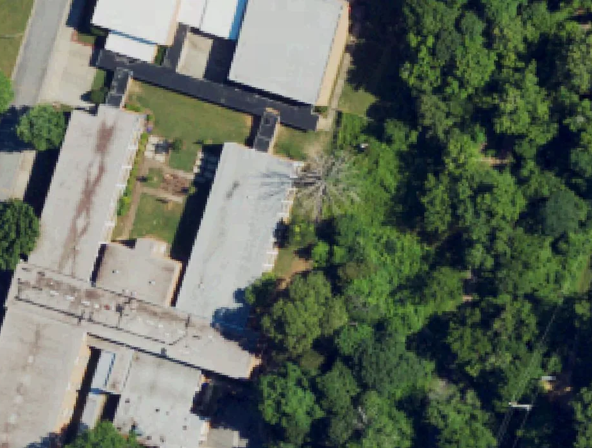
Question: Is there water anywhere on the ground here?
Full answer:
No, there is no water in the image.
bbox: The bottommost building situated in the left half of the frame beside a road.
[0,105,311,448]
